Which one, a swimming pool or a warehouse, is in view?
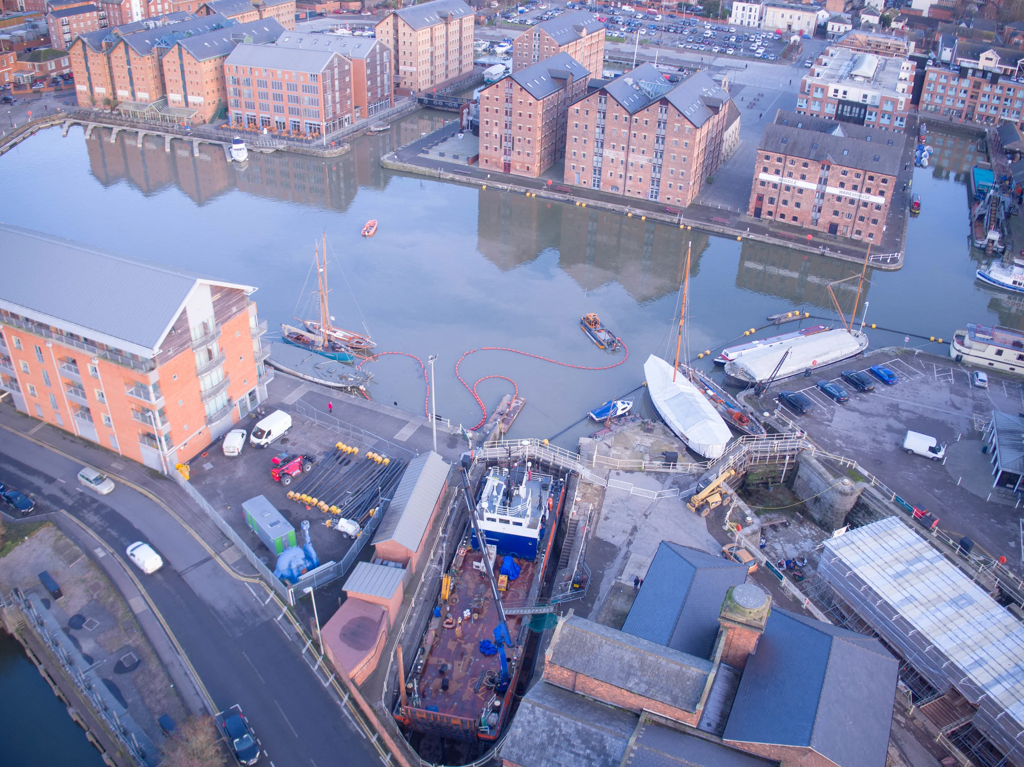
warehouse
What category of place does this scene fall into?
port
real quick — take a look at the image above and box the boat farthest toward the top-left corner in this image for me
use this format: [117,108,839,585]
[230,135,245,163]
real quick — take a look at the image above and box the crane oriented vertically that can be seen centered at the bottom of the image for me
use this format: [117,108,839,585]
[458,464,519,698]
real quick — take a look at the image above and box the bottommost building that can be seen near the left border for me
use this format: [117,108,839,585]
[0,212,270,473]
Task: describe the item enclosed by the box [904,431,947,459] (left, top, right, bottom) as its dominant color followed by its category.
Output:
white van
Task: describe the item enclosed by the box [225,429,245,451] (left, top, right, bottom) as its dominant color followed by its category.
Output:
white vehicle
